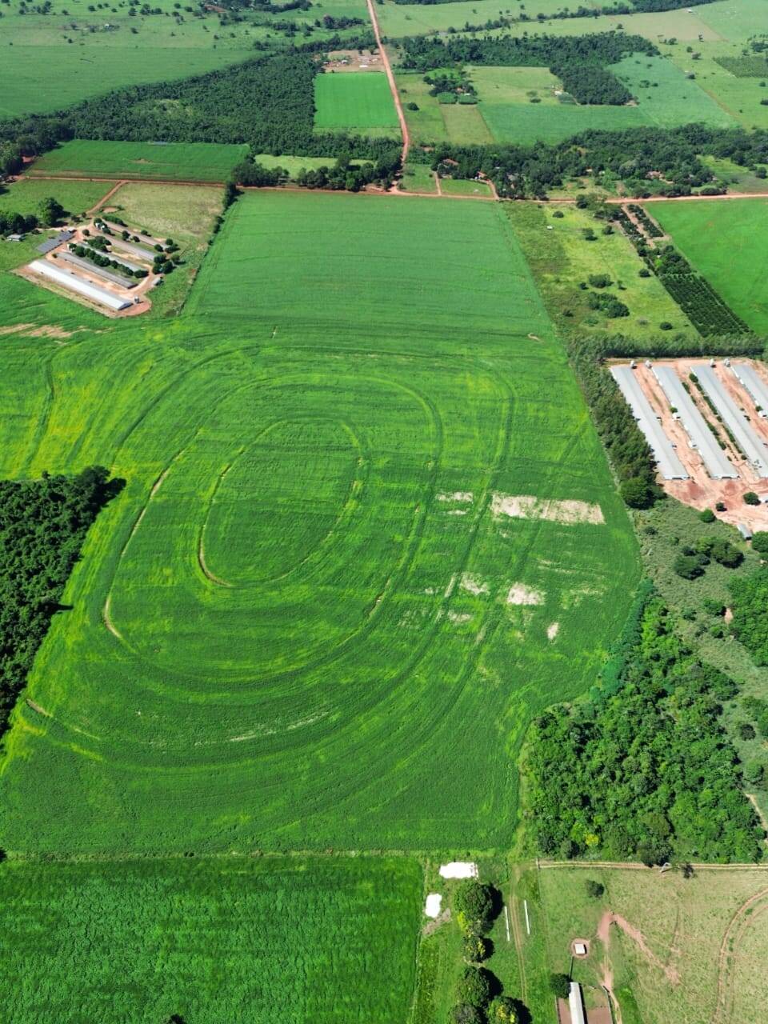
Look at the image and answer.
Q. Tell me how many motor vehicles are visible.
none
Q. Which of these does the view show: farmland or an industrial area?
farmland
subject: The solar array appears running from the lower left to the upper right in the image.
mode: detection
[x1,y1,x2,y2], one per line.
[36,232,73,252]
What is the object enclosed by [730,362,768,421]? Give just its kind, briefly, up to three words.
shed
